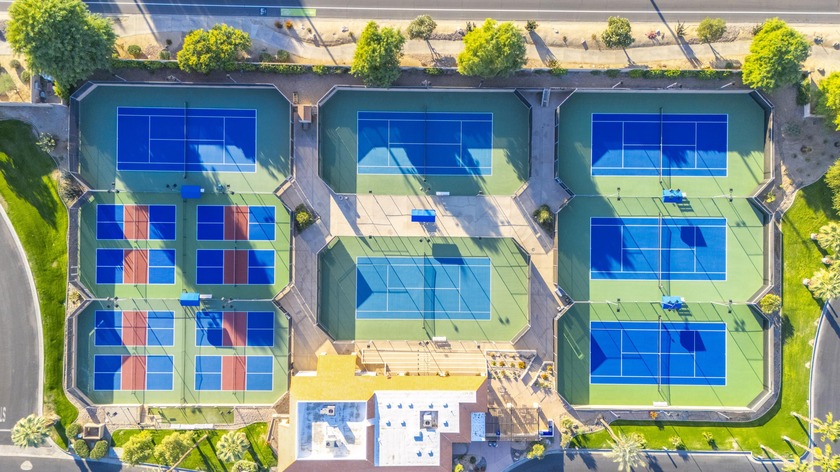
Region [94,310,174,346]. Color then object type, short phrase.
blue sports court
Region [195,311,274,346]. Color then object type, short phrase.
blue sports court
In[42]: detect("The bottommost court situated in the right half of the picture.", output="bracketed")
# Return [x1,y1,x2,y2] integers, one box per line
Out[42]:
[561,302,764,406]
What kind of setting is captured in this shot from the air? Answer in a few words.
sports ground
